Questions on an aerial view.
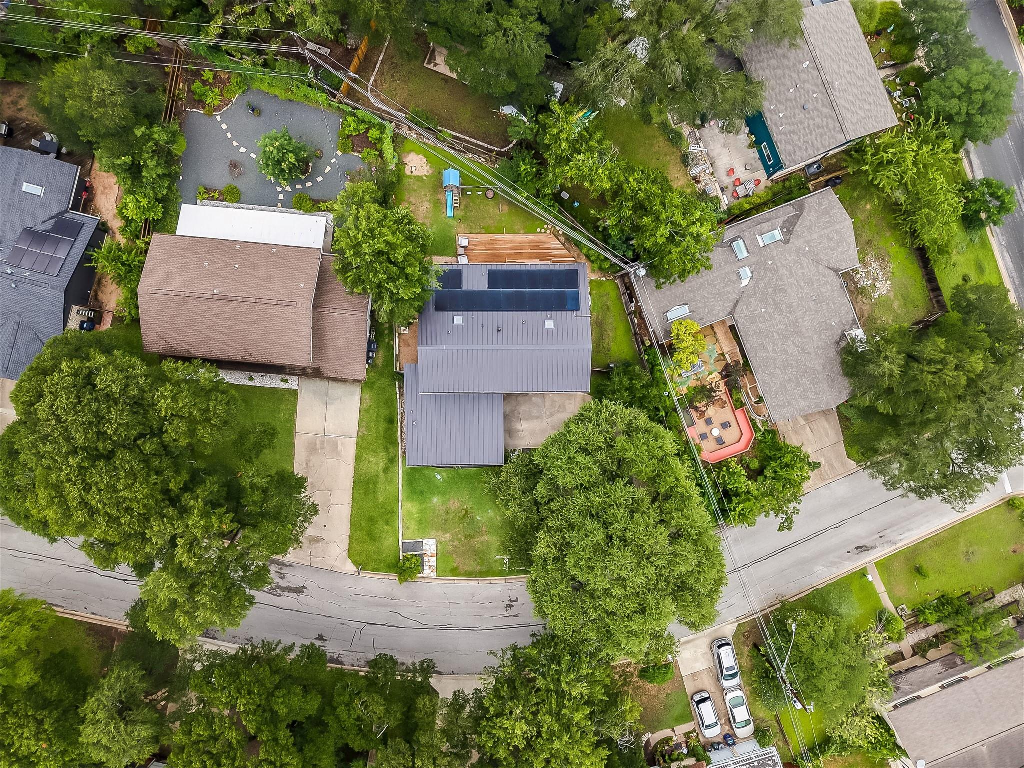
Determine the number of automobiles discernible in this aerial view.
3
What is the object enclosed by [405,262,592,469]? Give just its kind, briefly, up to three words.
house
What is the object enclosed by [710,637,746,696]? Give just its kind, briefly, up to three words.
car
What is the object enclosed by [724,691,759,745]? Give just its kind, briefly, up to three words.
car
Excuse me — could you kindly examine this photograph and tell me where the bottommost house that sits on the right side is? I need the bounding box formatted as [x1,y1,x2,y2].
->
[702,732,783,768]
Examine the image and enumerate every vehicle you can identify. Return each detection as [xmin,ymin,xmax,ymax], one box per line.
[691,691,725,745]
[724,691,759,745]
[710,637,746,696]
